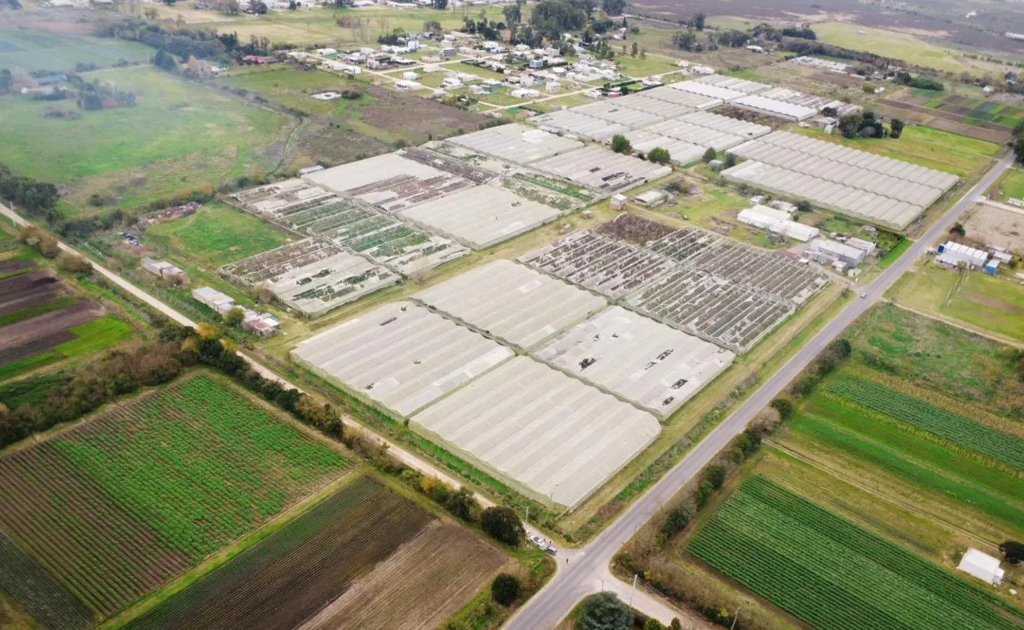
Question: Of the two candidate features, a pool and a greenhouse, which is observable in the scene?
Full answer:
Of the two, only a greenhouse appears.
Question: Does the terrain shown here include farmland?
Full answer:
Yes, farmland can be seen from above here.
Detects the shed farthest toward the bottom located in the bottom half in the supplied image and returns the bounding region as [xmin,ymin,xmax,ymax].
[960,550,1011,587]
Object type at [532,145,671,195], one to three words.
greenhouse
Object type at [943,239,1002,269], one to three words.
building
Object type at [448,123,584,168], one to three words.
greenhouse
